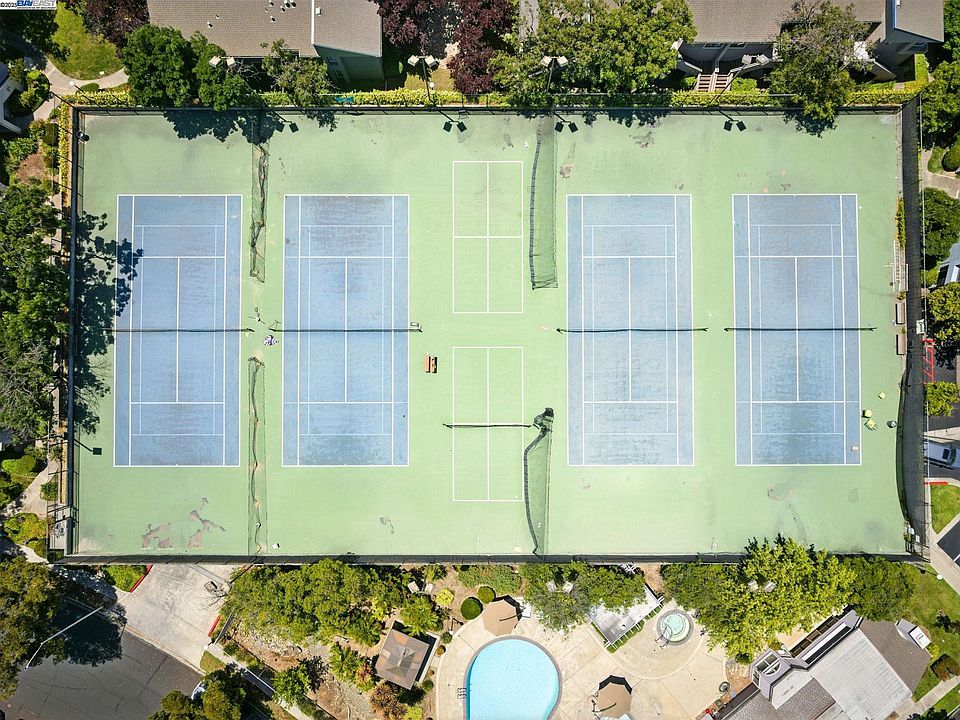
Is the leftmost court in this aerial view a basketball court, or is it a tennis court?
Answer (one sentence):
It looks like the leftmost court is a tennis court.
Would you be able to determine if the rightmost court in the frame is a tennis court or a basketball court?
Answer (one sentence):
What you see as the rightmost court is a tennis court.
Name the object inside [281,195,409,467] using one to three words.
tennis court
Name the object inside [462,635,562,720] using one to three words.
swimming pool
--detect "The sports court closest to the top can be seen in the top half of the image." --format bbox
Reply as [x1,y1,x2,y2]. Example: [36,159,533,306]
[453,160,523,314]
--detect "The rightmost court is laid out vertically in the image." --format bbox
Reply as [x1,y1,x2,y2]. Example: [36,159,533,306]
[733,195,862,466]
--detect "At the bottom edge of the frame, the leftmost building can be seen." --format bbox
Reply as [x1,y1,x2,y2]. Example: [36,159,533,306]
[374,620,442,689]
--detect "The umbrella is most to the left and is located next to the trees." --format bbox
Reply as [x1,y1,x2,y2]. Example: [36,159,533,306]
[482,597,530,635]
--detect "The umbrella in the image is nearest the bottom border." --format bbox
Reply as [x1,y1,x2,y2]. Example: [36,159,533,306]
[584,682,630,718]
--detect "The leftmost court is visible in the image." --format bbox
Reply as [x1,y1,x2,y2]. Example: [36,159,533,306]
[113,195,242,467]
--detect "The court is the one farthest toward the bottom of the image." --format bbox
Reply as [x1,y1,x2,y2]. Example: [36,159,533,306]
[452,346,523,502]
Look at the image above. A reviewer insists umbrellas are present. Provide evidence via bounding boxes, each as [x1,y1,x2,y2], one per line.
[482,597,530,635]
[584,682,630,718]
